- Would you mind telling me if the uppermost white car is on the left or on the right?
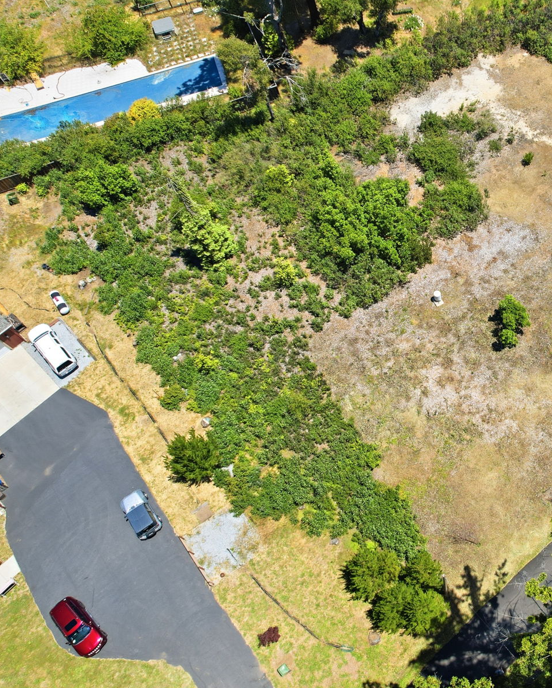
left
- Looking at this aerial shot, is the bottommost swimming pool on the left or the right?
left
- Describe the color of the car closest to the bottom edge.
red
